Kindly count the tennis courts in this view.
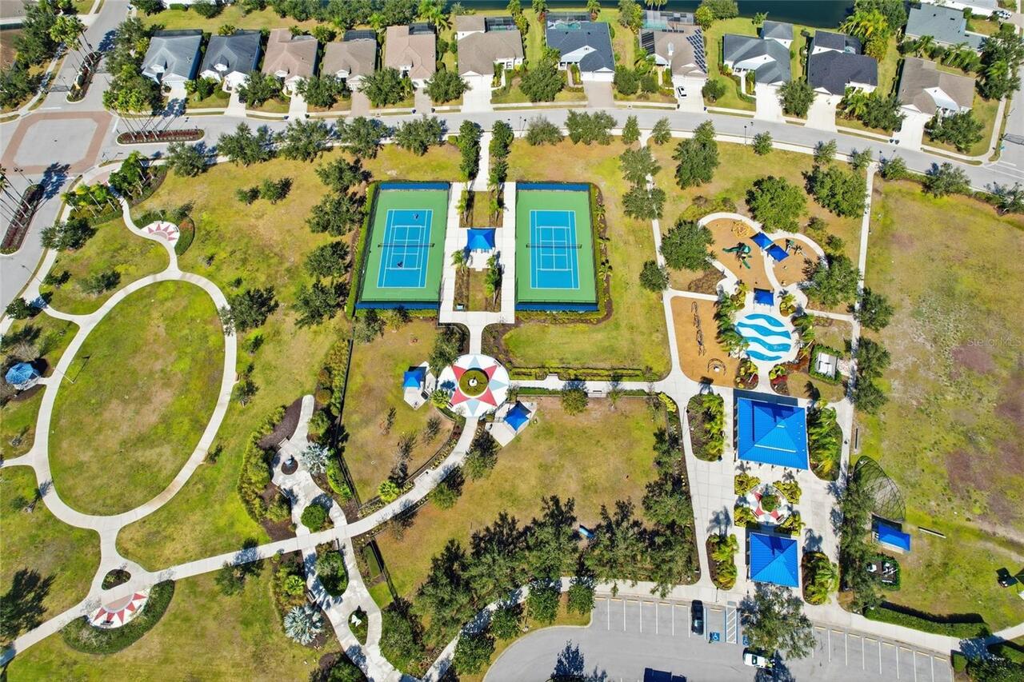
2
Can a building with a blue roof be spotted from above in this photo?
Yes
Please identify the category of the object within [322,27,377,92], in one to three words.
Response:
house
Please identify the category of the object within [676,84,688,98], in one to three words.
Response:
vehicle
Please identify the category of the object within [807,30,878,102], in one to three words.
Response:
house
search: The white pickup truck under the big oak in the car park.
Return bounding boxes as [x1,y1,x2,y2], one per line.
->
[741,651,778,670]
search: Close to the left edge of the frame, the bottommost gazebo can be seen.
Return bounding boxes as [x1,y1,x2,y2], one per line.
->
[4,362,48,393]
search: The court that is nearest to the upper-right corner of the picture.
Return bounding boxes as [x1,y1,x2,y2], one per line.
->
[516,190,598,295]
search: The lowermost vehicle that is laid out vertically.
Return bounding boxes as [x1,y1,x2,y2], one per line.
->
[690,602,705,634]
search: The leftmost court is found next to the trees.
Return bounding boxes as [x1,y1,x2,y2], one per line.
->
[363,190,448,298]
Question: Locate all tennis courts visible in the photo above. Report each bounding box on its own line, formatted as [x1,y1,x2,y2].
[516,190,598,295]
[363,190,448,298]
